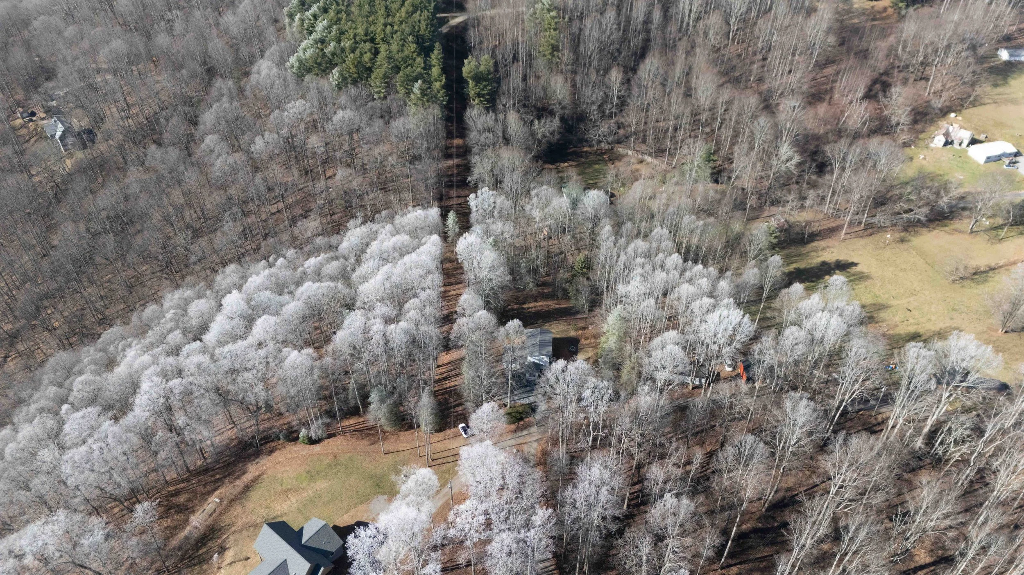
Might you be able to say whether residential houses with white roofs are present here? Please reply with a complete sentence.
Yes, a residential house with a white roof appears in the view.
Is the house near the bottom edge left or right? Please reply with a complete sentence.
The house near the bottom edge sits on the left side.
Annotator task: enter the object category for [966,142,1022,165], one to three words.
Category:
house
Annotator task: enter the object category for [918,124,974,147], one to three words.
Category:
house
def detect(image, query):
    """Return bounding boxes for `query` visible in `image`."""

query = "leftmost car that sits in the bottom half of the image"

[455,422,471,439]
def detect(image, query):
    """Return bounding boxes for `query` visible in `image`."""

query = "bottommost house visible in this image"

[245,519,344,575]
